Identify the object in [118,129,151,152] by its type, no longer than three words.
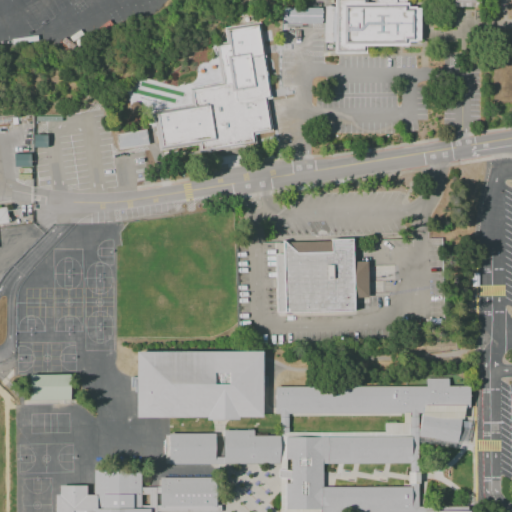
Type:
building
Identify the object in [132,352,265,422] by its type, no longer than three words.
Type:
building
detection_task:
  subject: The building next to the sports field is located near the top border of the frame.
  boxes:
[157,22,274,151]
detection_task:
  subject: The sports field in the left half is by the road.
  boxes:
[117,212,236,337]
